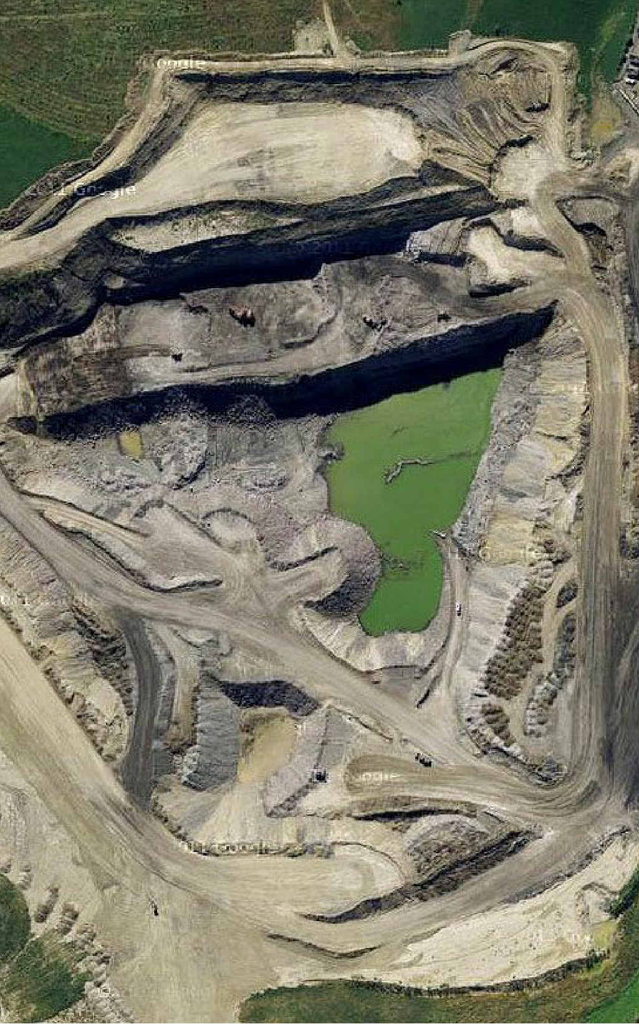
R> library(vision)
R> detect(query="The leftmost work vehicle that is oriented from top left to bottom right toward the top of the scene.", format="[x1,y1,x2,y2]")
[230,305,251,323]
